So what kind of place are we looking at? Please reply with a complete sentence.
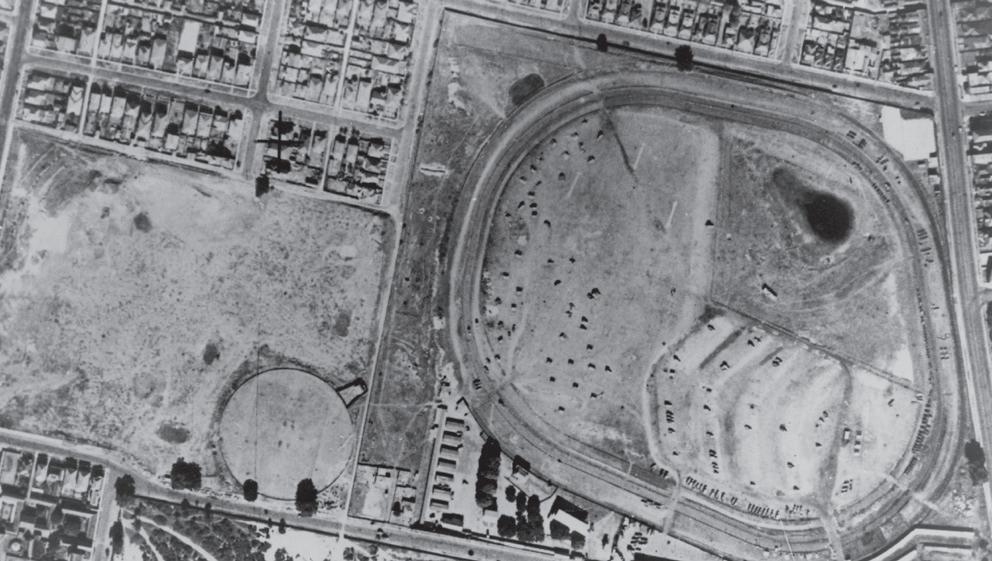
The picture captures a sports ground.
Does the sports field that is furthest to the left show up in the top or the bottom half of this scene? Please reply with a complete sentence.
The bottom half of the photo is where the sports field that is furthest to the left is.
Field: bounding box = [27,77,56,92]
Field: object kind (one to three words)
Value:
house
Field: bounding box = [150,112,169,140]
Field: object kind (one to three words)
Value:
house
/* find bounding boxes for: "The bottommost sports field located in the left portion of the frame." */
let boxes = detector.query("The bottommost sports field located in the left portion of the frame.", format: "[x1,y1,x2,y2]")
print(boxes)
[220,366,354,500]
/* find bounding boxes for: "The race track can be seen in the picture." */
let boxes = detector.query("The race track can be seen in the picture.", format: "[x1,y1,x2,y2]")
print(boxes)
[435,69,968,561]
